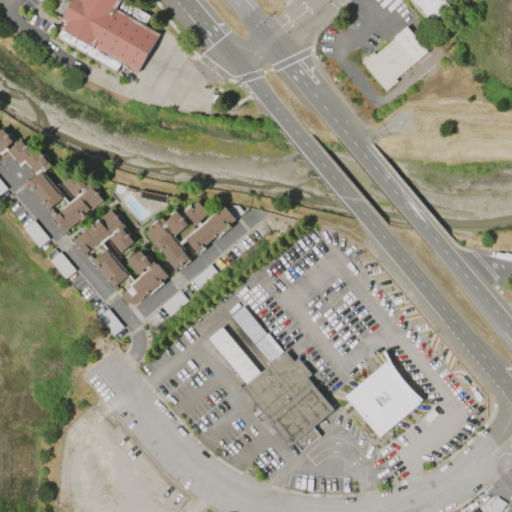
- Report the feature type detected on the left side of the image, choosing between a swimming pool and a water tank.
swimming pool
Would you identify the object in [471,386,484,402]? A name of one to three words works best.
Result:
vehicle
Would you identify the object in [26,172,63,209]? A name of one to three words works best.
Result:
house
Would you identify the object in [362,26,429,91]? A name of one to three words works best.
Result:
building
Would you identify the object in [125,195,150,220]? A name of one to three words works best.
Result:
swimming pool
